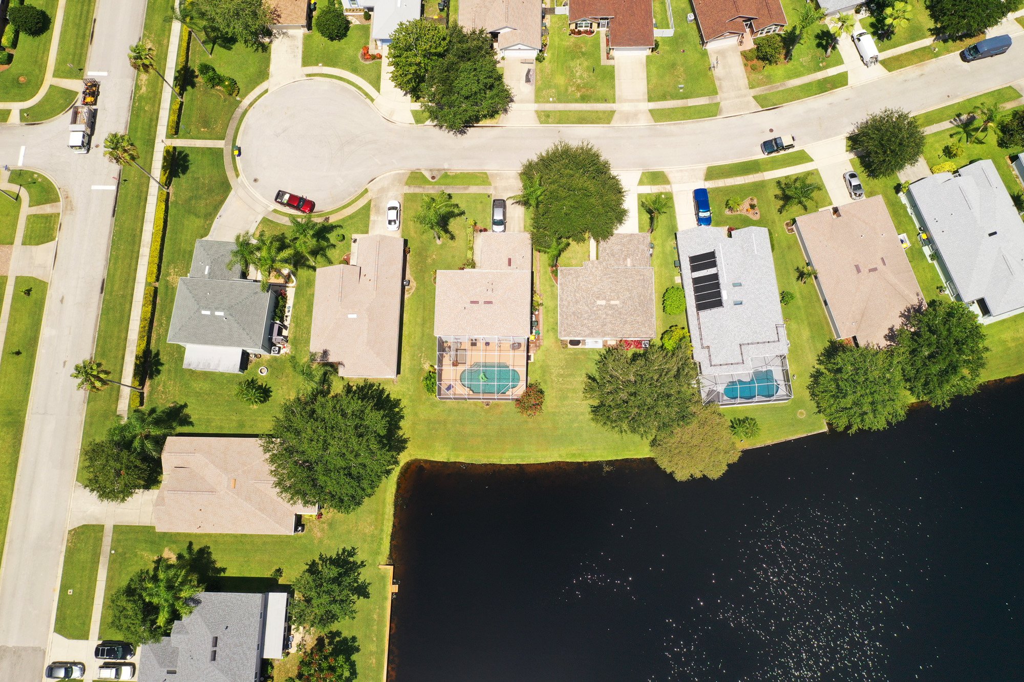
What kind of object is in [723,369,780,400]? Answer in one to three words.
swimming pool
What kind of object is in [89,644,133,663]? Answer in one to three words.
car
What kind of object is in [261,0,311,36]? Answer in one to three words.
house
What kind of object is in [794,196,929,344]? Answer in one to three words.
house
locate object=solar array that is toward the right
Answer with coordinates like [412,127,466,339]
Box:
[689,249,785,366]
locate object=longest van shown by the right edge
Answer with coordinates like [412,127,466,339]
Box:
[960,30,1020,60]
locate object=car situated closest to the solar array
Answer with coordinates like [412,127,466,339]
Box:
[695,185,713,225]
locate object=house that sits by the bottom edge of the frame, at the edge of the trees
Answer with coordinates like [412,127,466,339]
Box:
[139,592,272,682]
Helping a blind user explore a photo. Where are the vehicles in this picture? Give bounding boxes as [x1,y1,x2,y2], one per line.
[761,130,798,152]
[695,185,713,225]
[960,30,1020,60]
[89,644,133,663]
[271,187,314,212]
[92,664,133,682]
[385,198,399,229]
[855,25,885,63]
[40,663,83,682]
[65,99,91,153]
[490,196,506,232]
[846,167,867,198]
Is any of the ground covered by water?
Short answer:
Yes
